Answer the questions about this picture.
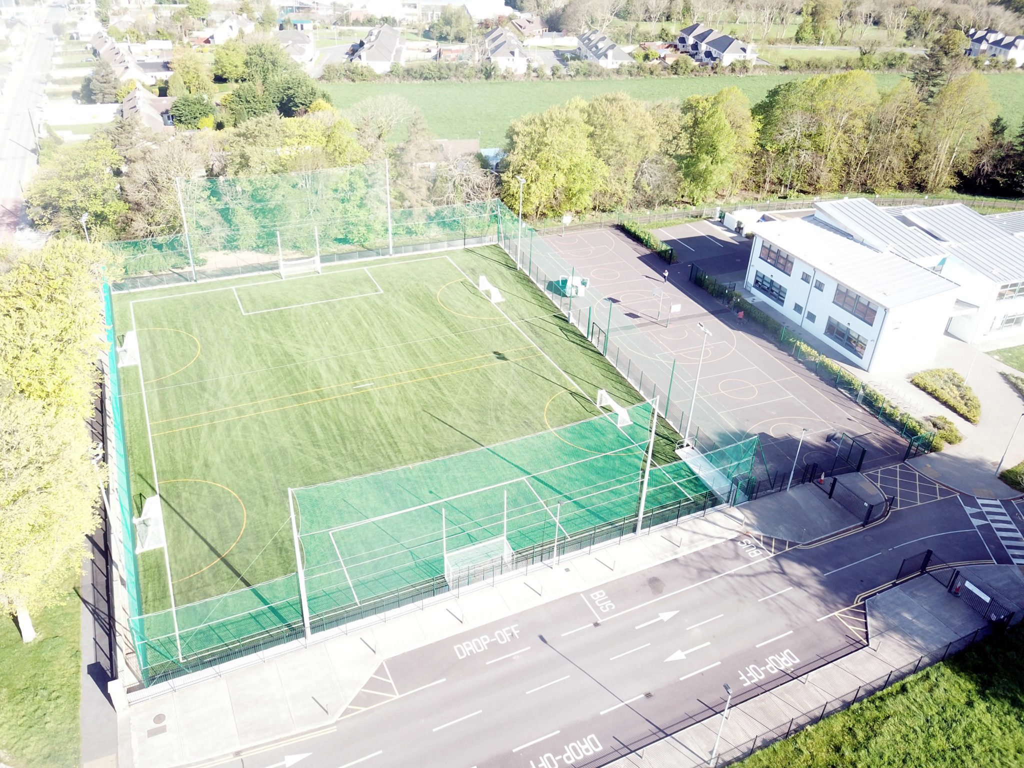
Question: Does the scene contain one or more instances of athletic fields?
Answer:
Yes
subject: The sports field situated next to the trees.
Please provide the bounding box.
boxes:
[108,244,732,689]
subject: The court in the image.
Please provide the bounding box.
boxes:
[499,220,905,497]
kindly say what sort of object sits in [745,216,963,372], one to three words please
building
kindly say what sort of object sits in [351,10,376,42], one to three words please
building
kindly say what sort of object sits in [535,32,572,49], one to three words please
house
